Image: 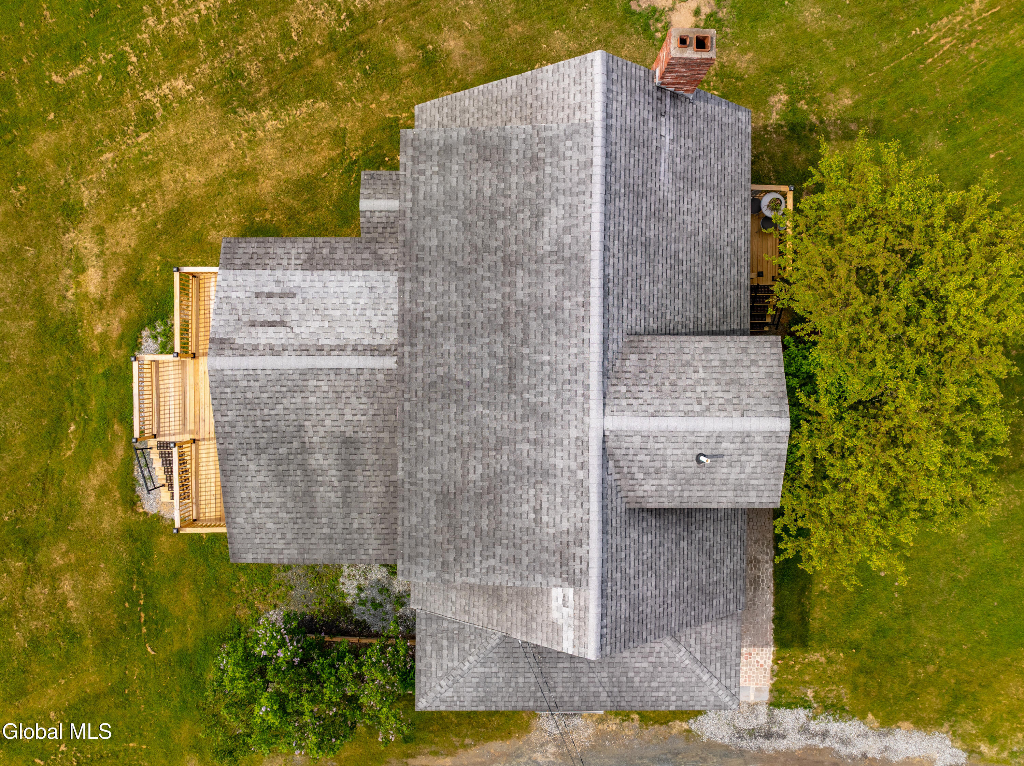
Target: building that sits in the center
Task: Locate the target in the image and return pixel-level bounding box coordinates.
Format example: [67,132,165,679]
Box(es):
[207,27,791,714]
